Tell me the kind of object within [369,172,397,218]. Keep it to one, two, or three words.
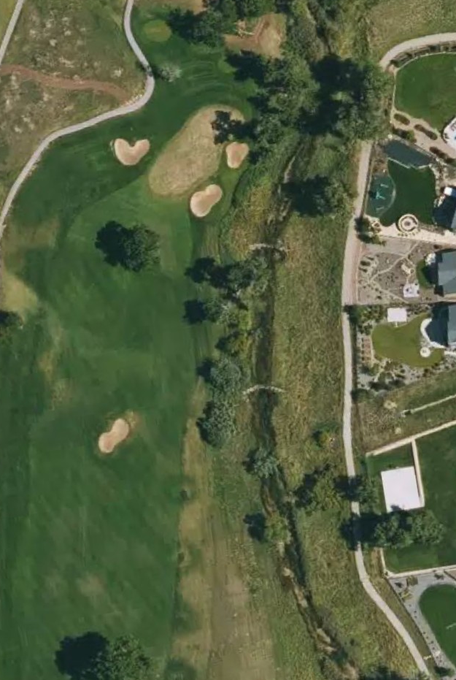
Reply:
sports court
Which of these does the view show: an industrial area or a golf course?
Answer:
golf course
